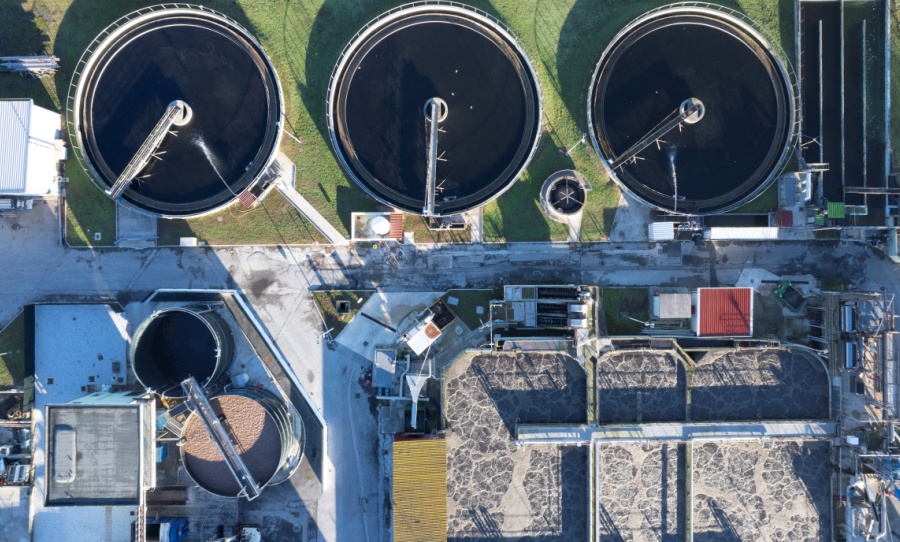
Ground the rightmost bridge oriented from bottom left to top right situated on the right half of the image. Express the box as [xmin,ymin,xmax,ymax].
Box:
[604,101,704,172]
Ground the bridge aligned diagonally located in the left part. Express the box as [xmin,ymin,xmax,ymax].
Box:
[103,102,187,200]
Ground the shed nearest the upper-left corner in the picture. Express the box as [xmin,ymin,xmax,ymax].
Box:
[0,97,65,200]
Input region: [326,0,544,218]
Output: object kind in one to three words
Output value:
storage tank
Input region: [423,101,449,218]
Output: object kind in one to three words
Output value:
bridge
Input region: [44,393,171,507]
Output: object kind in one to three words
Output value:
building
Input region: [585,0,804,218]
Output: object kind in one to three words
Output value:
storage tank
